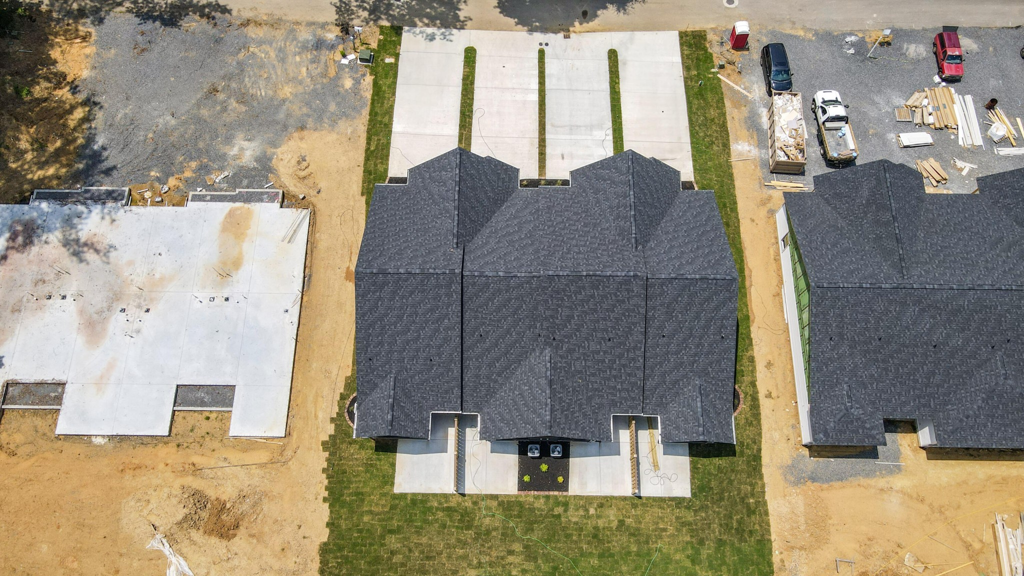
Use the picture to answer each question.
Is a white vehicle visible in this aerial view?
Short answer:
Yes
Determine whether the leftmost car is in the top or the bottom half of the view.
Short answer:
top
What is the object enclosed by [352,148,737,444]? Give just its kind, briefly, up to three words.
house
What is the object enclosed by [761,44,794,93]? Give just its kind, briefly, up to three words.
car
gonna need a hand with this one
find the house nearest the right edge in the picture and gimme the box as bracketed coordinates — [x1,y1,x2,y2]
[773,160,1024,447]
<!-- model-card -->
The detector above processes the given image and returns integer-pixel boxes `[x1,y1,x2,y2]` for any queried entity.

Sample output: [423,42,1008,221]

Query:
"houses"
[773,160,1024,447]
[352,148,737,444]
